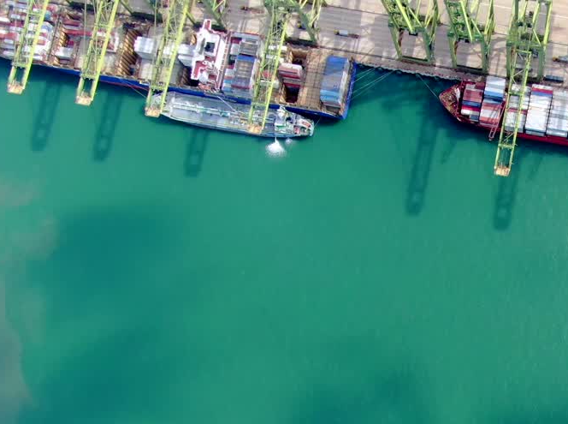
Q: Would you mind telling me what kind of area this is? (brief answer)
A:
port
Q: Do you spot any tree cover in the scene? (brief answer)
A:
No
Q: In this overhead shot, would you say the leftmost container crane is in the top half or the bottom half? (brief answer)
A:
top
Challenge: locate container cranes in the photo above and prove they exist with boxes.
[71,0,176,106]
[378,0,448,65]
[442,0,504,75]
[492,0,558,180]
[241,0,337,136]
[2,0,116,94]
[139,0,237,118]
